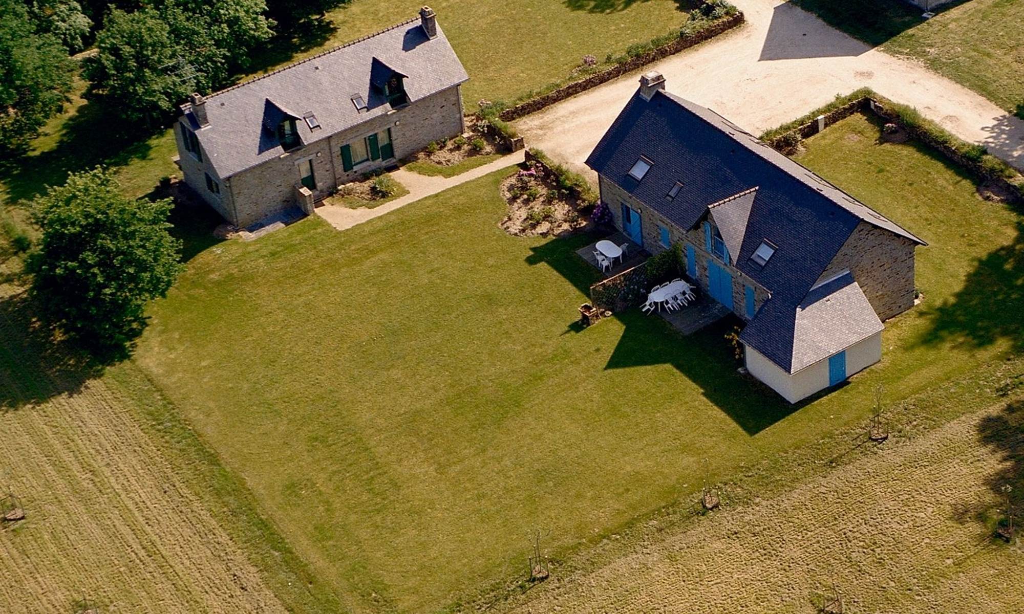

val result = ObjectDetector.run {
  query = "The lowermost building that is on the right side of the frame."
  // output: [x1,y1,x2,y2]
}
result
[584,67,925,404]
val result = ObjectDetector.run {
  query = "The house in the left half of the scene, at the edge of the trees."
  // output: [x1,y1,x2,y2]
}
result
[161,2,469,228]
